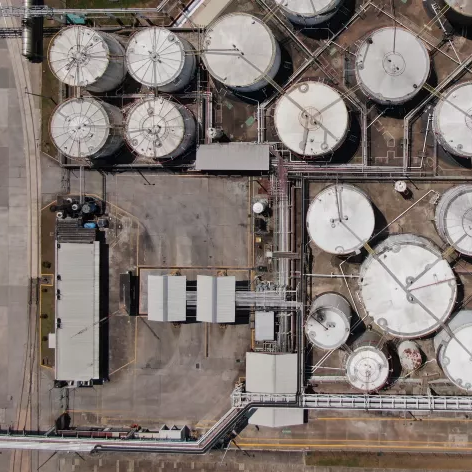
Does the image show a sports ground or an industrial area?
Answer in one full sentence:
This looks like an industrial area.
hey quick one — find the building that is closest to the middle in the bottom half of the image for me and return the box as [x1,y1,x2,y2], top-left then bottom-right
[255,309,274,340]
